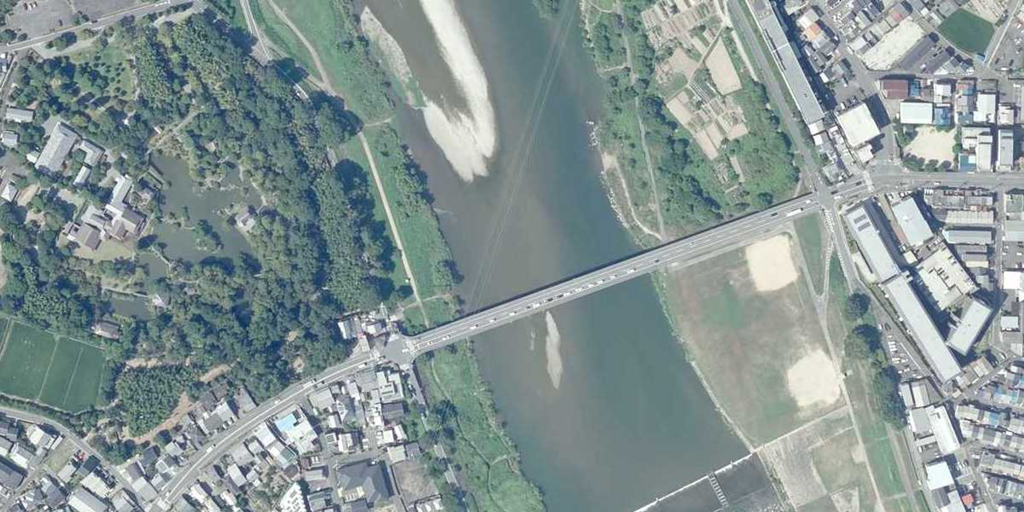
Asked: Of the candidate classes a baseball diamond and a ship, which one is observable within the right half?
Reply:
baseball diamond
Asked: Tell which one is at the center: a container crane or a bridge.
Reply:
bridge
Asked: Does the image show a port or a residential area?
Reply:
residential area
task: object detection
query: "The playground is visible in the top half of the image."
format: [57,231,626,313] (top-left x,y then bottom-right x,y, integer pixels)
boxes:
[902,126,957,163]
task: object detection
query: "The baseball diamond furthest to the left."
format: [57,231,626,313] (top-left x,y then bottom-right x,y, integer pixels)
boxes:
[744,236,794,290]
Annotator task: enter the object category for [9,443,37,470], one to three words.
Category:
house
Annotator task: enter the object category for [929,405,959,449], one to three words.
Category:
building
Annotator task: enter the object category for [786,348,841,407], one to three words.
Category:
baseball field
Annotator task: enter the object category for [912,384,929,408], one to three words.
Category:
shed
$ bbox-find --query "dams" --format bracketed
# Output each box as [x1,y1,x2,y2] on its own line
[635,453,753,512]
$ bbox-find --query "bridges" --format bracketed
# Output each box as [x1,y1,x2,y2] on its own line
[408,189,824,358]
